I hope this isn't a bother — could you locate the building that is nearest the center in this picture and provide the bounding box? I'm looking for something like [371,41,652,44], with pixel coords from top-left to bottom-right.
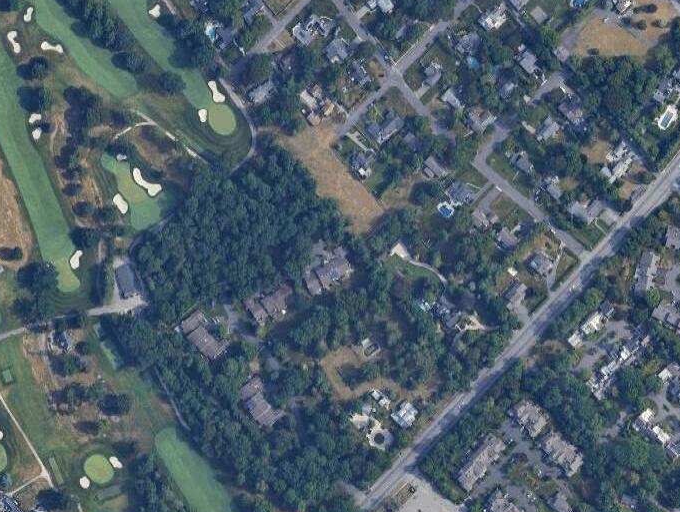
[302,240,351,296]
